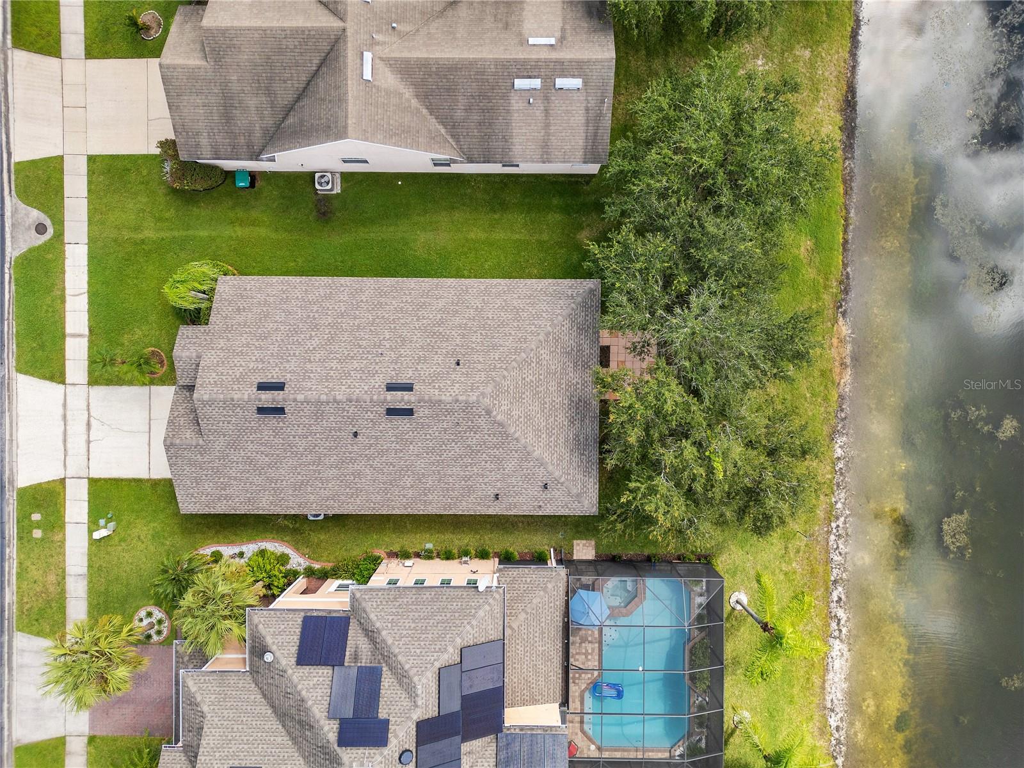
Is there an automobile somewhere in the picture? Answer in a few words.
No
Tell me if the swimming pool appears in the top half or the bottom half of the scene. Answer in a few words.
bottom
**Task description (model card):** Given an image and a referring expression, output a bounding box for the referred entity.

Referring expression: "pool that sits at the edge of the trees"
[580,579,695,752]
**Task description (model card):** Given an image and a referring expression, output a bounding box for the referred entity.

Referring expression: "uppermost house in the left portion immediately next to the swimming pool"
[164,276,600,515]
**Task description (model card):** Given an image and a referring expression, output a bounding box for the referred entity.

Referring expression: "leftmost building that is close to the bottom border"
[158,546,570,768]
